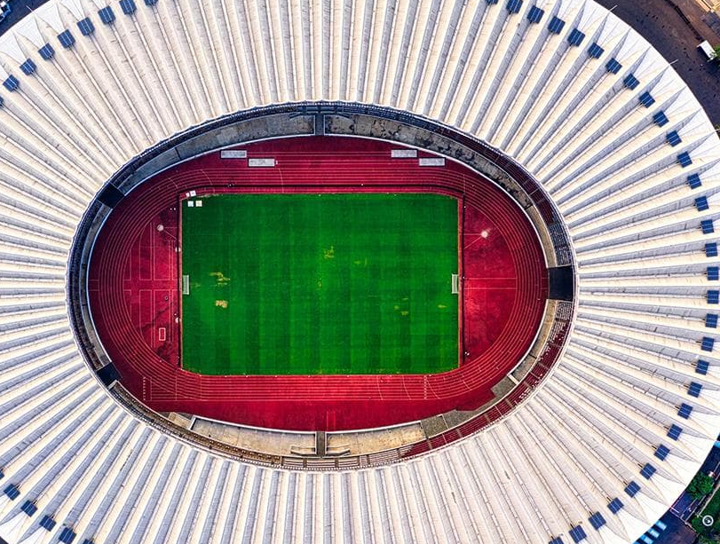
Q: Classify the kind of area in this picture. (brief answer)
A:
sports ground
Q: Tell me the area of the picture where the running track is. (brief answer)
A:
center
